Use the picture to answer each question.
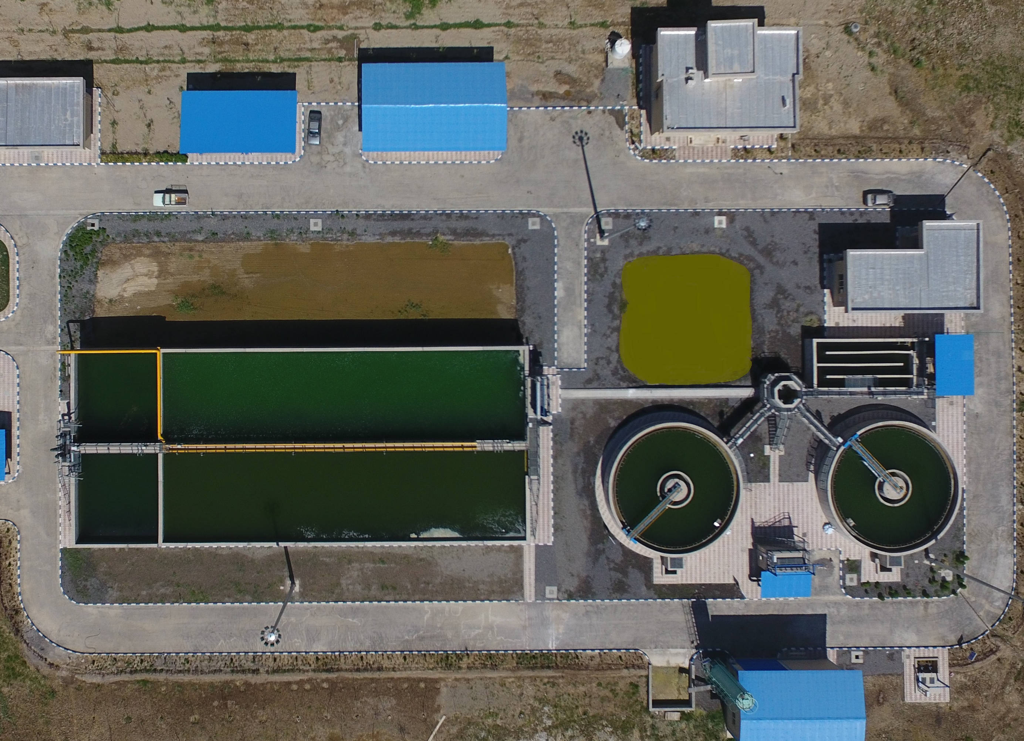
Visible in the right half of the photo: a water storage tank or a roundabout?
water storage tank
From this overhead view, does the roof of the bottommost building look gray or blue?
blue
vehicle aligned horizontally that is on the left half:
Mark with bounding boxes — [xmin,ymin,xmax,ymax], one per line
[153,191,190,208]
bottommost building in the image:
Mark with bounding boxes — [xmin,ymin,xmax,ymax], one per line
[727,659,868,741]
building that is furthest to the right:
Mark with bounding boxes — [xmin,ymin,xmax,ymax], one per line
[831,220,983,313]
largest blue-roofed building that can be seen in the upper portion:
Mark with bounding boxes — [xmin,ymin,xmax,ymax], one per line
[362,62,507,153]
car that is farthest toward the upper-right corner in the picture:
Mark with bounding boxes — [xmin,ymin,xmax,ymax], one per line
[865,192,897,207]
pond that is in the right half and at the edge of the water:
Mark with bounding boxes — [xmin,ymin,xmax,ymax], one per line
[620,253,752,385]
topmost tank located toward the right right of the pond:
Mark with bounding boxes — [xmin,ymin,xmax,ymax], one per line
[804,338,929,389]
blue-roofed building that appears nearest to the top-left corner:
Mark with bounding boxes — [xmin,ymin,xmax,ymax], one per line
[179,91,299,155]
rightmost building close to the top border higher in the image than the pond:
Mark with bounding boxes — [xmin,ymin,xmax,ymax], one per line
[646,19,802,145]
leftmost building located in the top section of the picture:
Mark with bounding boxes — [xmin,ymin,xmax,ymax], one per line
[0,77,94,155]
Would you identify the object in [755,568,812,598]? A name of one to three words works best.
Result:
shed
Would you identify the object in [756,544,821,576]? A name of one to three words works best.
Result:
building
